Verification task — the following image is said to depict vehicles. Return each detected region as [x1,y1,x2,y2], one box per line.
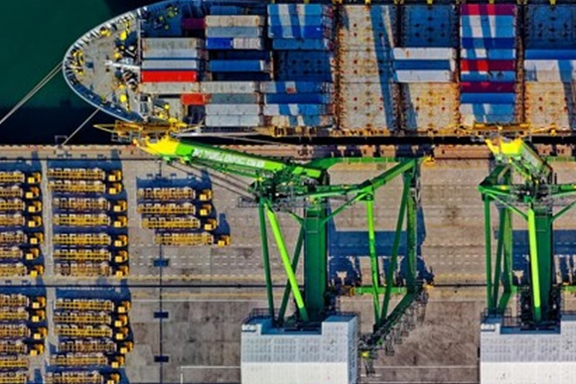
[56,299,134,313]
[48,169,125,181]
[138,205,215,217]
[53,215,130,228]
[0,201,46,213]
[0,310,49,324]
[138,189,215,202]
[53,199,130,212]
[0,215,46,227]
[0,296,50,310]
[0,266,47,279]
[46,373,123,384]
[49,182,126,195]
[0,173,45,185]
[54,250,132,263]
[0,341,48,356]
[0,232,47,245]
[54,314,132,328]
[50,354,128,370]
[59,341,137,356]
[143,218,220,231]
[0,188,44,201]
[53,234,132,248]
[55,326,133,340]
[0,326,51,340]
[54,265,133,278]
[156,234,233,246]
[0,248,44,261]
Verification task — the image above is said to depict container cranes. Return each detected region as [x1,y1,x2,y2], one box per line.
[97,118,444,384]
[451,118,576,384]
